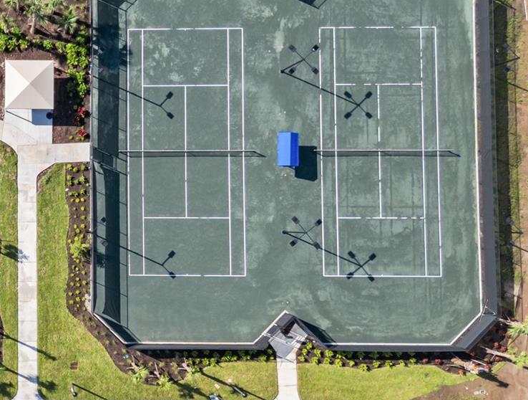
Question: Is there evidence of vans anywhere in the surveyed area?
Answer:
No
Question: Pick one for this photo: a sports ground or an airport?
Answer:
sports ground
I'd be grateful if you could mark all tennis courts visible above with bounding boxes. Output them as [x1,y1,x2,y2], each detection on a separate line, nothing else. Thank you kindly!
[129,29,245,276]
[91,0,484,345]
[321,28,440,275]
